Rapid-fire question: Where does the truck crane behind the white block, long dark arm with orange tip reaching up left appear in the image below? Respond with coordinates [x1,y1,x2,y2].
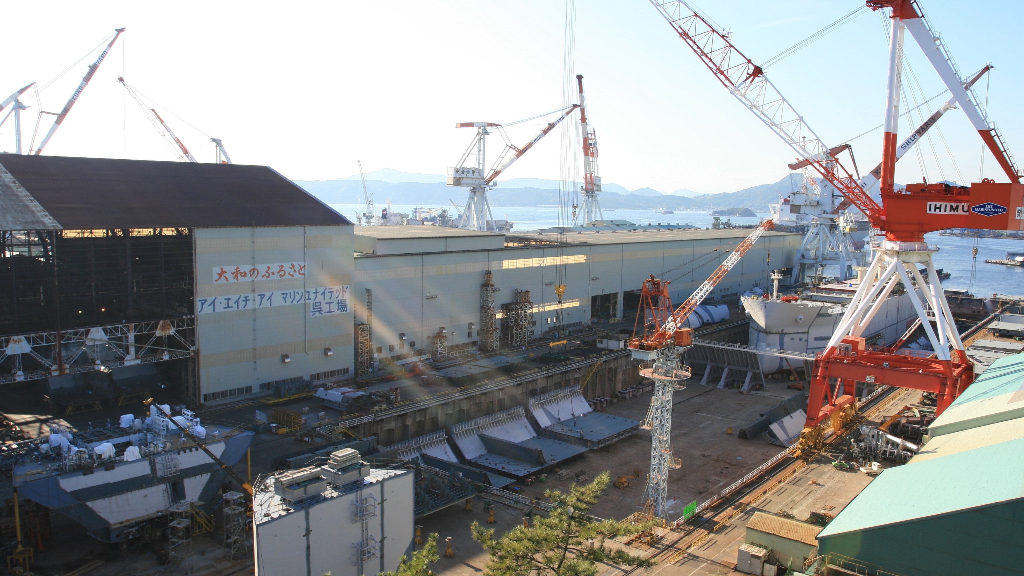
[138,394,254,548]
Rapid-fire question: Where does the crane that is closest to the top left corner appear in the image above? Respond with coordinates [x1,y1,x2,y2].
[0,28,126,153]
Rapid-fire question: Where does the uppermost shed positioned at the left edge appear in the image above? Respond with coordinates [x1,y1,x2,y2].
[0,151,357,440]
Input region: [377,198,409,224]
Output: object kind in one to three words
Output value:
ship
